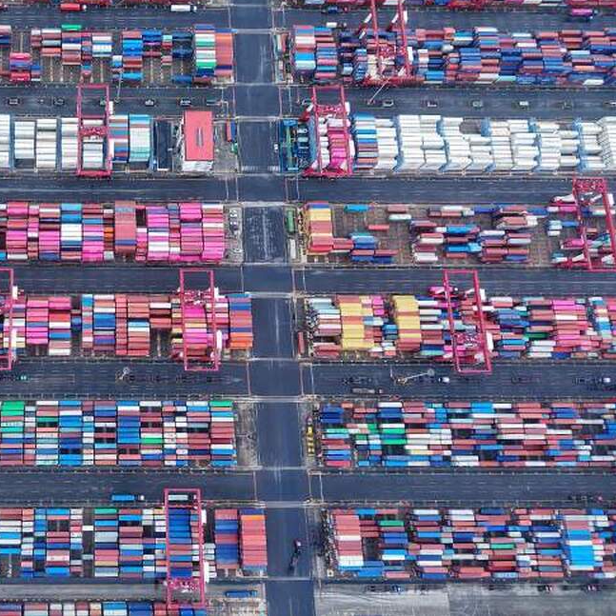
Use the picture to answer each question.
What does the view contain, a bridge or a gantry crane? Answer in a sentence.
Looking from above, you can make out a gantry crane.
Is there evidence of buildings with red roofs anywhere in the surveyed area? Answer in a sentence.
Yes, I can see a building with a red roof in this picture.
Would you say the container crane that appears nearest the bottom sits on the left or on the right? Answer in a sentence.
The container crane that appears nearest the bottom appears in the left half of the scene.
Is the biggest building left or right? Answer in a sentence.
The biggest building is on the left side of the image.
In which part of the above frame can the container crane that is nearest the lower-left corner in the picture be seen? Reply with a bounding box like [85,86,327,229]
[153,490,213,606]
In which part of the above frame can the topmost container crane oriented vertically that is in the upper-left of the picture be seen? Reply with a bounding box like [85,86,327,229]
[69,86,116,176]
